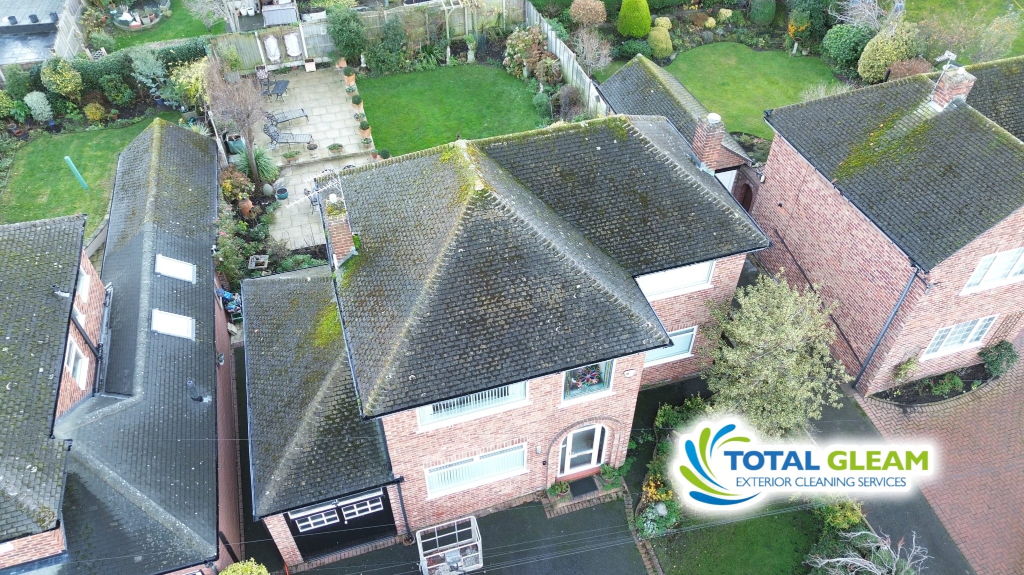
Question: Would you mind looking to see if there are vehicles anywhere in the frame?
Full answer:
No, there's no vehicle here.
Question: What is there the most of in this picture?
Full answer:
The bulk of the photo consists of buildings.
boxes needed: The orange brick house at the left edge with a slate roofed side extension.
[0,101,240,575]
